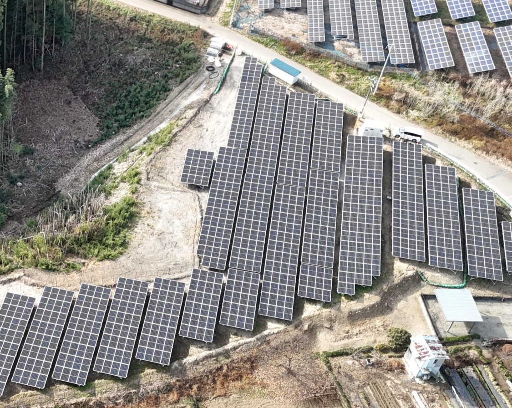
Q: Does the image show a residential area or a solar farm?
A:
solar farm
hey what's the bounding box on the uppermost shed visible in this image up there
[269,55,304,84]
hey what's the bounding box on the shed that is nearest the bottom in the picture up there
[407,327,459,383]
